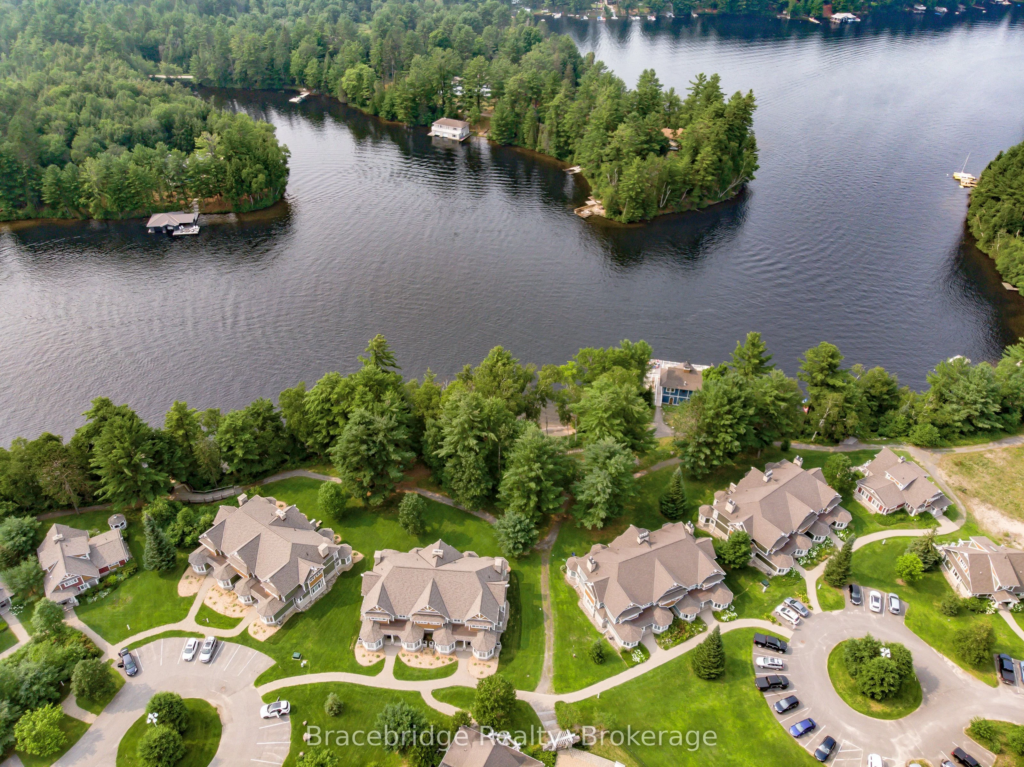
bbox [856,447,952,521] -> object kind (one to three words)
house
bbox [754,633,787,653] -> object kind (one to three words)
vehicle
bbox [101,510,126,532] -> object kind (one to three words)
gazebo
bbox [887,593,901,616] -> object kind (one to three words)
car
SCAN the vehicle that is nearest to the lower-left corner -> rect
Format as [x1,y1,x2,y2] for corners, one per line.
[115,647,138,677]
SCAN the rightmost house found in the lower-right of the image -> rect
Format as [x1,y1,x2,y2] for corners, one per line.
[944,533,1024,612]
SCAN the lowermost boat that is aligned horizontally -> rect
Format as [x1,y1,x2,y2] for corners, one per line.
[944,354,971,366]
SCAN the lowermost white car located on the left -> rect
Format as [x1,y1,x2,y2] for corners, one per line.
[261,697,290,721]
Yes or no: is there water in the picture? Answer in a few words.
Yes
